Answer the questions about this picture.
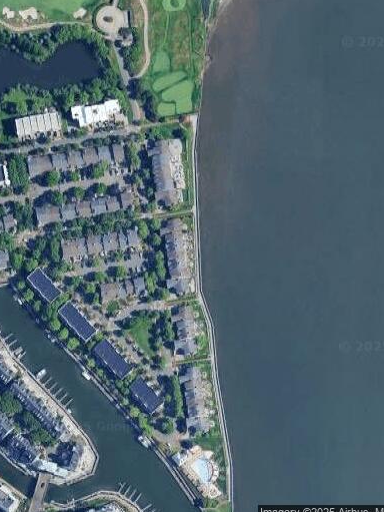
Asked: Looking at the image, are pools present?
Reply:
Yes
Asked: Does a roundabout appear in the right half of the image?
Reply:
No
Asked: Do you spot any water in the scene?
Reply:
Yes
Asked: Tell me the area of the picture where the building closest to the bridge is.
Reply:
bottom left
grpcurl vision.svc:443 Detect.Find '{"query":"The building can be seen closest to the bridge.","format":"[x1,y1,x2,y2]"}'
[31,457,68,477]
